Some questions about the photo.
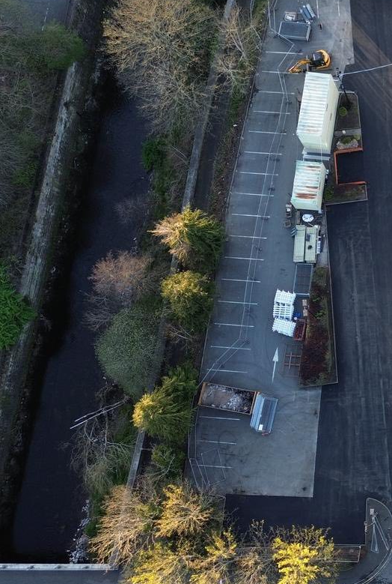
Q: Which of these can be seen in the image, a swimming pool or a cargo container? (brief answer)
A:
cargo container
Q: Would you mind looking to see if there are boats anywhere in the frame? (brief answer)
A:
No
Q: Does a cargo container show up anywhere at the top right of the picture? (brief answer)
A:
Yes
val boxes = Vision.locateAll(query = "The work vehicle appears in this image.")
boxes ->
[288,54,332,78]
